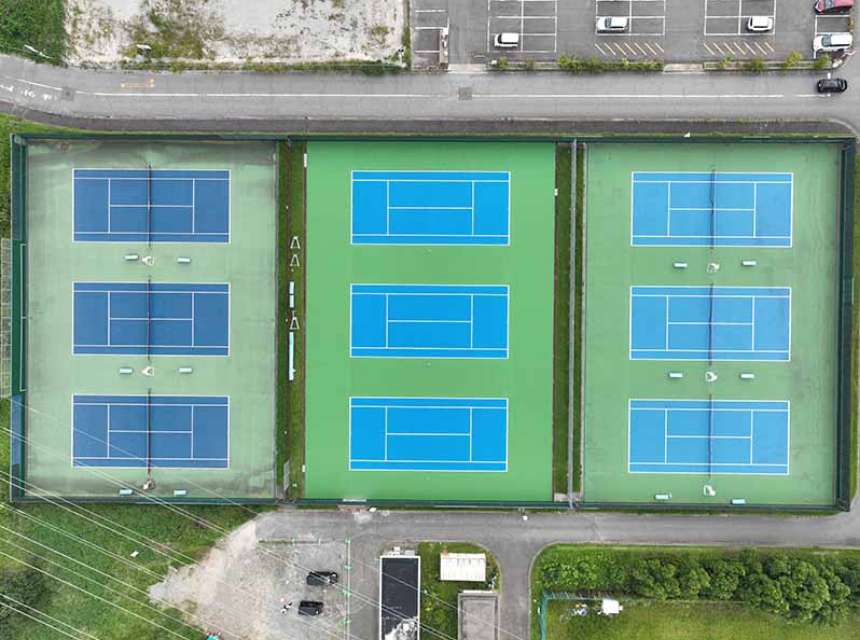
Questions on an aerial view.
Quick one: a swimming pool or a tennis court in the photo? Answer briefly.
tennis court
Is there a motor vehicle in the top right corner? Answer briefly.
Yes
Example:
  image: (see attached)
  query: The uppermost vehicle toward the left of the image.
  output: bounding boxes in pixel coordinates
[308,569,338,585]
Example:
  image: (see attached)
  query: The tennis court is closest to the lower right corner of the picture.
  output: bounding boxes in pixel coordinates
[629,400,790,475]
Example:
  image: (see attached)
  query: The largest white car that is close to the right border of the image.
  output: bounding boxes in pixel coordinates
[814,34,851,52]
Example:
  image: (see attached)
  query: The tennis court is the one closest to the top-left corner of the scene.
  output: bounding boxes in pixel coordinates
[73,169,230,243]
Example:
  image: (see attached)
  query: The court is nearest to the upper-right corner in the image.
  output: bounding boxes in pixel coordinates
[632,172,793,247]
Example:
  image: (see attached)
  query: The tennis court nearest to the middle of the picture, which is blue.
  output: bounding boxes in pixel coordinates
[350,284,509,359]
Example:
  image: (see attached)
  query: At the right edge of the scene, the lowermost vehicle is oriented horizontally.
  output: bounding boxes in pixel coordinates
[815,78,847,93]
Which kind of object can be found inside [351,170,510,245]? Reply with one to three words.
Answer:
tennis court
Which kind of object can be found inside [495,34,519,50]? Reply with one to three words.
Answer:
car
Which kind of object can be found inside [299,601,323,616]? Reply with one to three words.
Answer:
car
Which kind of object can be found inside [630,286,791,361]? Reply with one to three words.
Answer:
tennis court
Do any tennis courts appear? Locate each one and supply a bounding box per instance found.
[72,395,229,469]
[349,397,509,472]
[632,172,793,247]
[72,282,230,356]
[629,400,790,475]
[630,286,791,361]
[73,169,230,243]
[350,284,509,359]
[351,170,510,245]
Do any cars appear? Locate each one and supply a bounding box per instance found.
[747,17,773,33]
[816,0,852,14]
[596,18,629,34]
[815,78,847,93]
[495,34,519,50]
[299,601,323,616]
[308,569,338,585]
[814,34,851,52]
